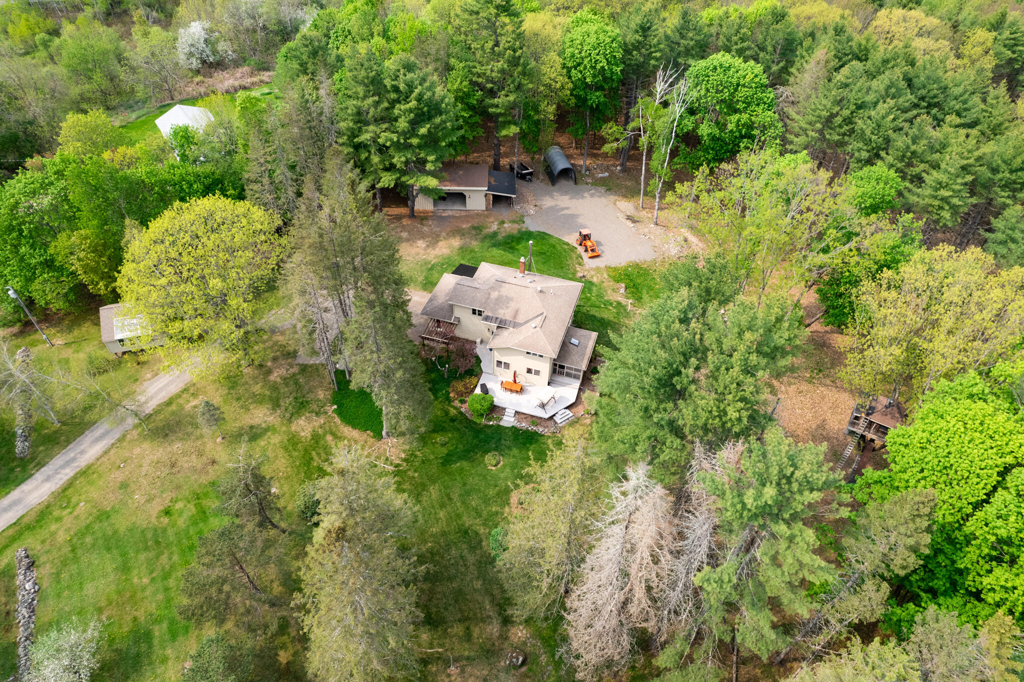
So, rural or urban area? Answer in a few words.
rural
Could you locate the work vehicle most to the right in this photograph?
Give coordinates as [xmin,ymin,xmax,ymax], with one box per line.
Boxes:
[574,227,601,258]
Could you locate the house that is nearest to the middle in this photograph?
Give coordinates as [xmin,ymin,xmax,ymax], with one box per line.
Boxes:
[419,242,598,388]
